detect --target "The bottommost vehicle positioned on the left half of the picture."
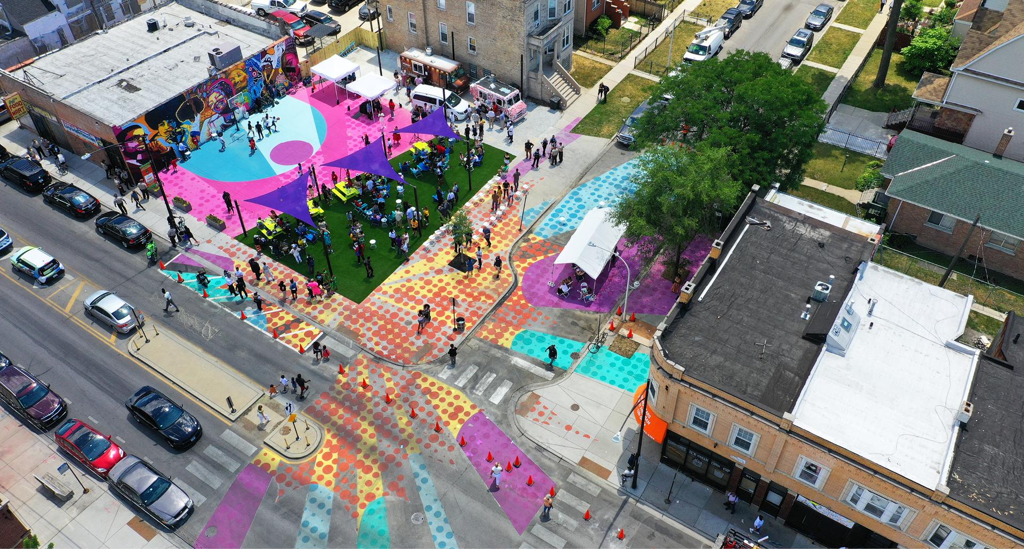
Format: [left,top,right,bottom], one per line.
[107,456,197,531]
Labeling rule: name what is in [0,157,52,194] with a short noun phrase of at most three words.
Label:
car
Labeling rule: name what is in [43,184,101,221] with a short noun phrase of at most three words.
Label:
car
